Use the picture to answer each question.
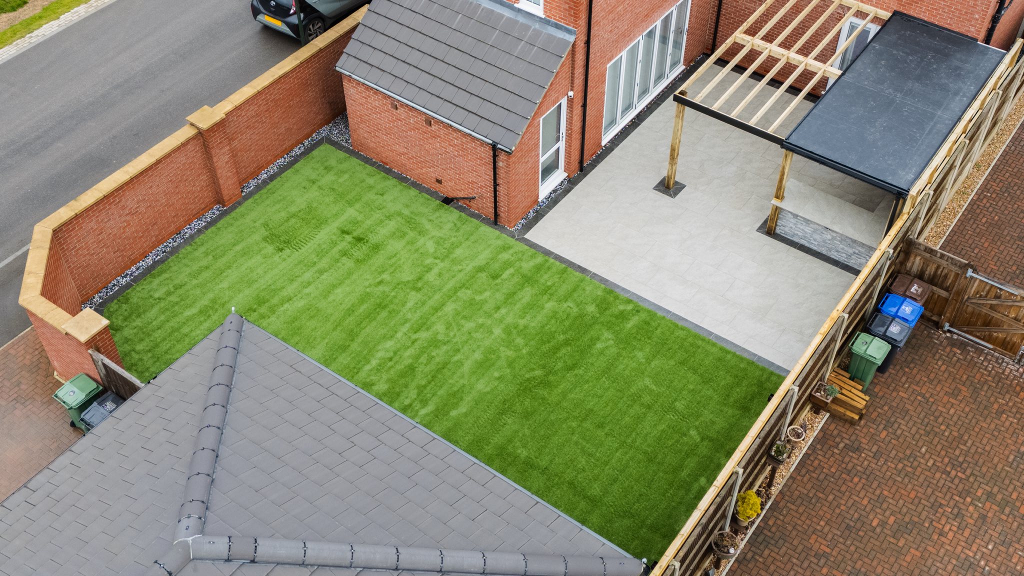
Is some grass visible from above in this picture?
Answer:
Yes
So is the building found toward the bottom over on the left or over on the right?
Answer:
left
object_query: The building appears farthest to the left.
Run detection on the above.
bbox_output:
[0,307,645,576]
